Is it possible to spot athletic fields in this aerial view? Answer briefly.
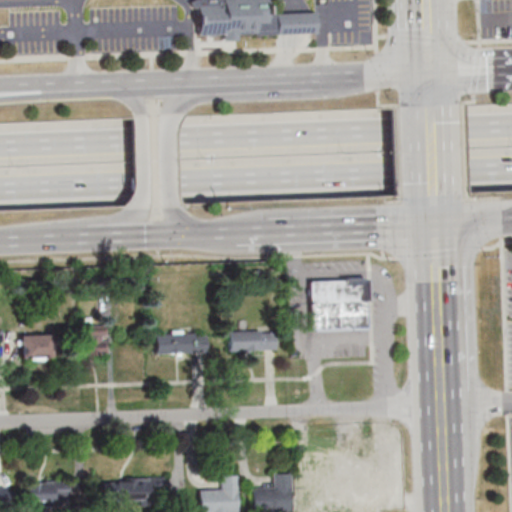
No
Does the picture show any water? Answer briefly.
No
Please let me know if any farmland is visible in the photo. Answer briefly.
No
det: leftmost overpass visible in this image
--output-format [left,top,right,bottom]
[124,95,190,228]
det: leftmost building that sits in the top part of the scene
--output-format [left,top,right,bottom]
[192,0,279,40]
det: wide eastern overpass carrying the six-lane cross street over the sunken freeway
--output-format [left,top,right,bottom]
[396,102,468,198]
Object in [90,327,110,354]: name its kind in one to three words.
house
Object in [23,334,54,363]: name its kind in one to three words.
house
